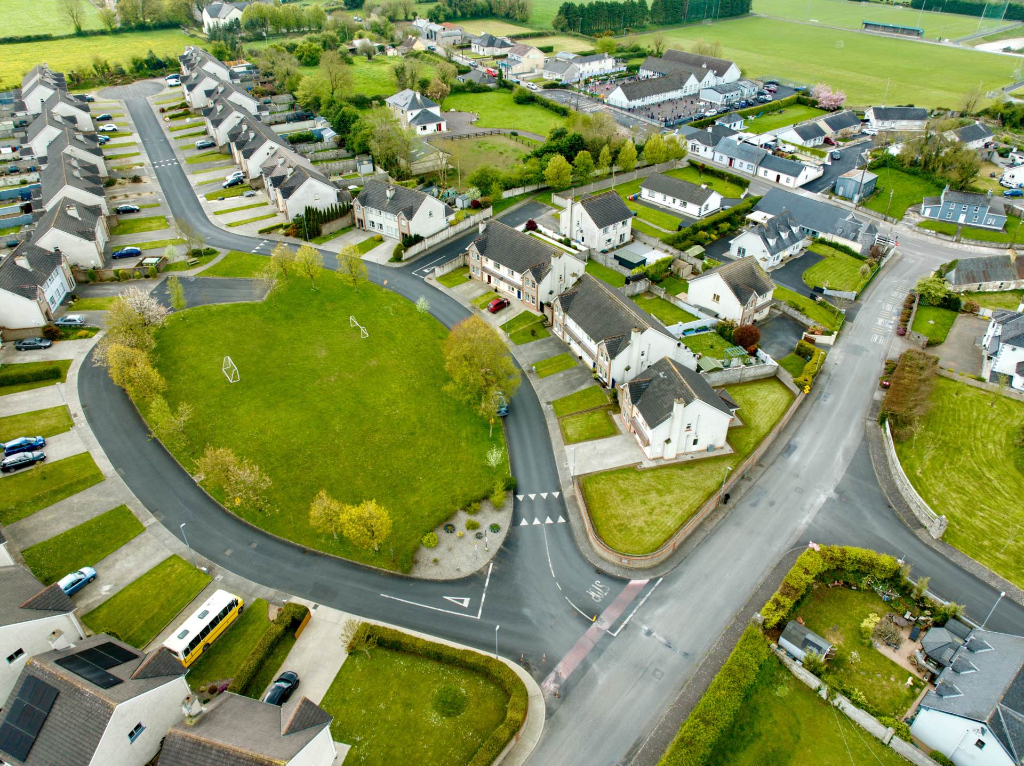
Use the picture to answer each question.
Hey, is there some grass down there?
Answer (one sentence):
Yes, there's grass in this view.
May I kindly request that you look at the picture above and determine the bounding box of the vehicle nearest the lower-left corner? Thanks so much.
[48,561,102,596]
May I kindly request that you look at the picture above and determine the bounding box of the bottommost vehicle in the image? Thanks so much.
[253,657,308,704]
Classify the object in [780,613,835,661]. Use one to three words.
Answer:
shed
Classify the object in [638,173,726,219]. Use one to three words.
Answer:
house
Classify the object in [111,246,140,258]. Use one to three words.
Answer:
vehicle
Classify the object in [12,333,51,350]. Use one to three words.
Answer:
car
